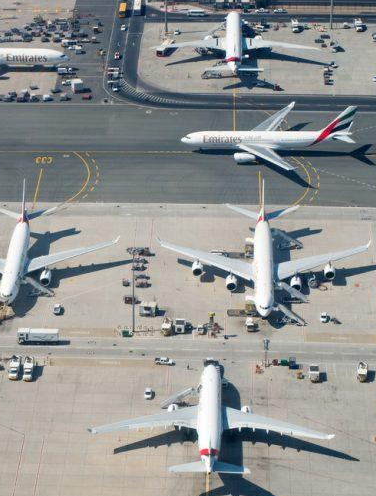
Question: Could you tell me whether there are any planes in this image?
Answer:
Yes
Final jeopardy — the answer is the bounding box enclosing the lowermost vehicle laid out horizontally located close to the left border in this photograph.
[17,328,58,344]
